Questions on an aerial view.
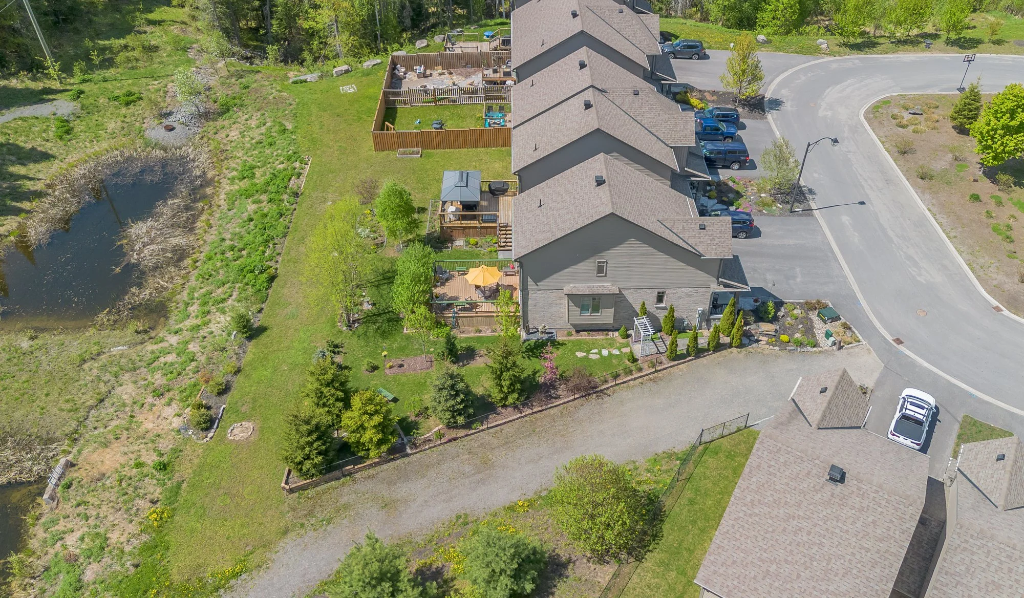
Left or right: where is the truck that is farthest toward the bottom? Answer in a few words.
right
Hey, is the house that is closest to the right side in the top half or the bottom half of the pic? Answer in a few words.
bottom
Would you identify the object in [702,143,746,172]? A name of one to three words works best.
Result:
truck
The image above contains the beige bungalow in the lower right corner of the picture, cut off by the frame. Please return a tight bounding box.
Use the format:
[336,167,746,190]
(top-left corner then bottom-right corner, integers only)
[886,436,1024,598]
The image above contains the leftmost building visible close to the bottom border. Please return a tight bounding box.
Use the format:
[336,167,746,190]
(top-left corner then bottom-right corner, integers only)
[690,367,931,598]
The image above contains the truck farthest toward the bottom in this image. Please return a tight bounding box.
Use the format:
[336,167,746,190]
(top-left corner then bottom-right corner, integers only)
[892,380,944,451]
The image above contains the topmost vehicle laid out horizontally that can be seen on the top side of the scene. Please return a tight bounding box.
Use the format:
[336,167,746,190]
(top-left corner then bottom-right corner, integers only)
[661,40,704,60]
